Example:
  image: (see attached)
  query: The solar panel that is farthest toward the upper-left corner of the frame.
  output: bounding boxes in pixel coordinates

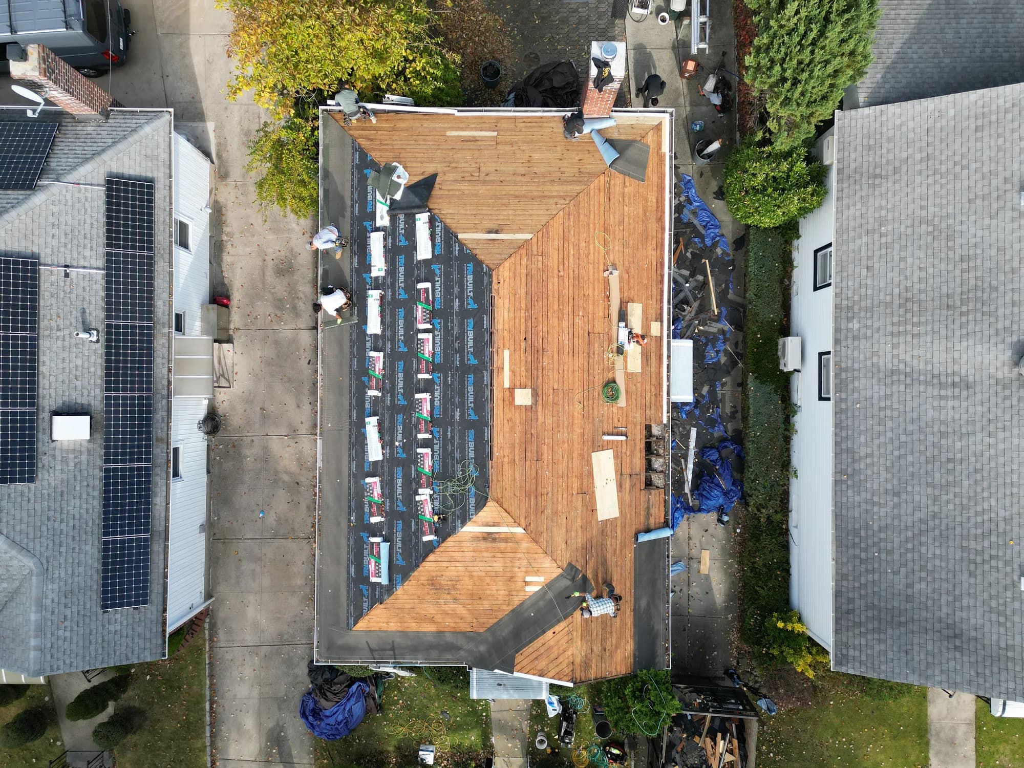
[0,121,61,191]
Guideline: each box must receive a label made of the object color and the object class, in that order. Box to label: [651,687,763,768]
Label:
black trailer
